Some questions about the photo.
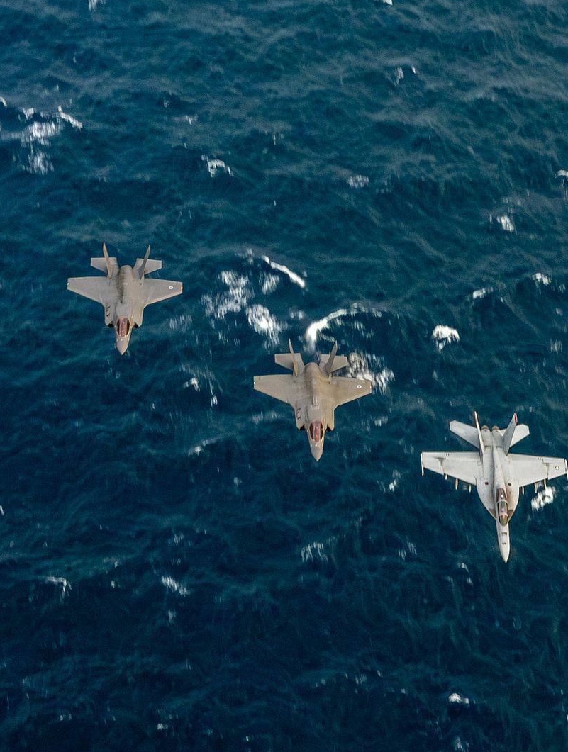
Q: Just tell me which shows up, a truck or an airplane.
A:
airplane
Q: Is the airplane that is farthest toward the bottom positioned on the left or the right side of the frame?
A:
right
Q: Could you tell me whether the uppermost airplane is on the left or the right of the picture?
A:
left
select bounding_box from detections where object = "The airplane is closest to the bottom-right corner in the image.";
[421,413,568,562]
